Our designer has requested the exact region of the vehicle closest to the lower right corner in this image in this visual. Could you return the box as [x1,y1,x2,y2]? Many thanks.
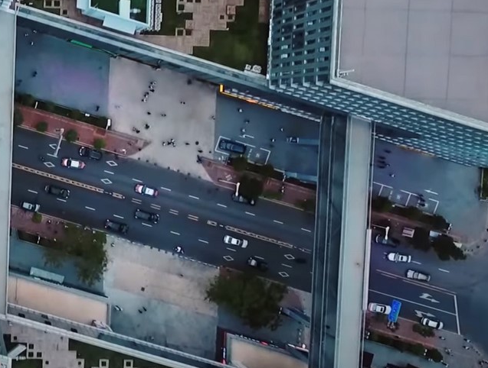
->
[417,315,443,330]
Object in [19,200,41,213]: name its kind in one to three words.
vehicle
